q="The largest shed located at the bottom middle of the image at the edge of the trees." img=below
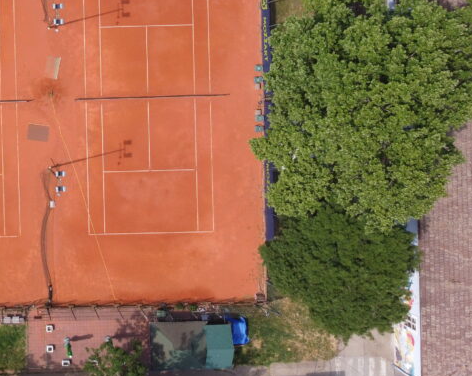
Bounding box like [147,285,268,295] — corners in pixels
[150,313,234,369]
